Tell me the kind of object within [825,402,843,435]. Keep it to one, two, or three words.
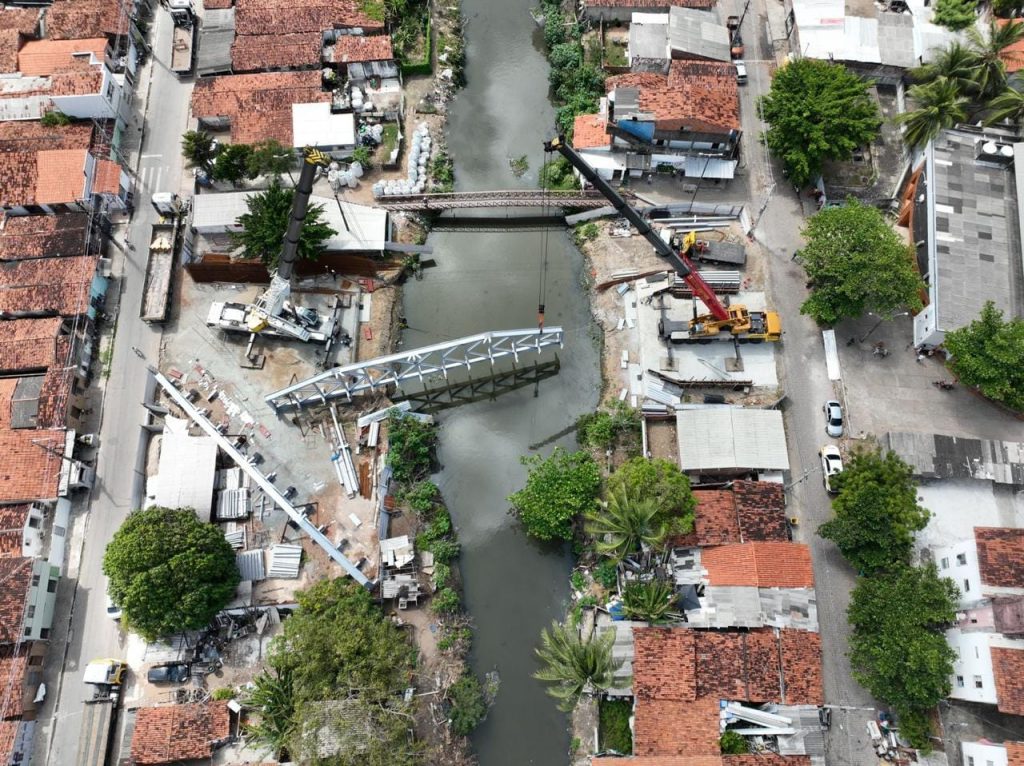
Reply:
car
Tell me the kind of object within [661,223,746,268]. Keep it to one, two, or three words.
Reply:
truck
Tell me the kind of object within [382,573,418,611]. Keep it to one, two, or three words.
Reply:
shed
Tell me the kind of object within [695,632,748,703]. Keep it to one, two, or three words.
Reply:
house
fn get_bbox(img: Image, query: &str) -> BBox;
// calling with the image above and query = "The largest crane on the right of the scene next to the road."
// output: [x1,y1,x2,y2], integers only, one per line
[533,137,785,370]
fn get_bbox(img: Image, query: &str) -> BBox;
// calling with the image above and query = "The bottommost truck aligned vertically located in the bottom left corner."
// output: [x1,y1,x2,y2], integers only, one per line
[77,661,122,766]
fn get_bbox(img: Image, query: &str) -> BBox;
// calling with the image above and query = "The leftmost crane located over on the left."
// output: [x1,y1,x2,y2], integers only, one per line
[202,132,351,367]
